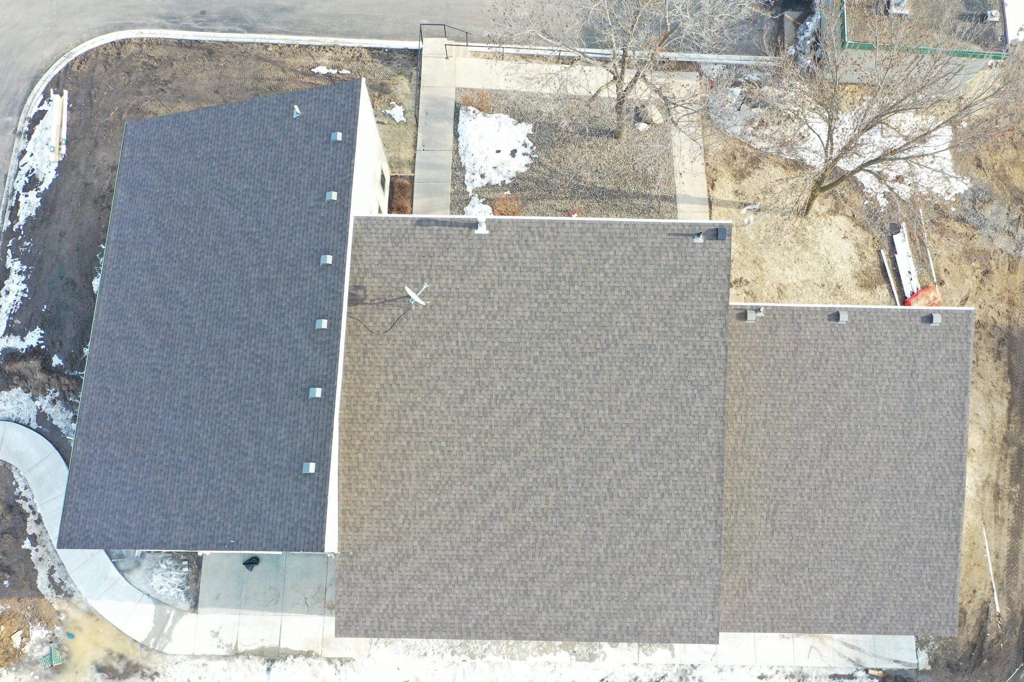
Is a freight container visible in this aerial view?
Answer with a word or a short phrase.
No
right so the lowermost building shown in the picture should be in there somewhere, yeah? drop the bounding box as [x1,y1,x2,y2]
[55,77,977,645]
